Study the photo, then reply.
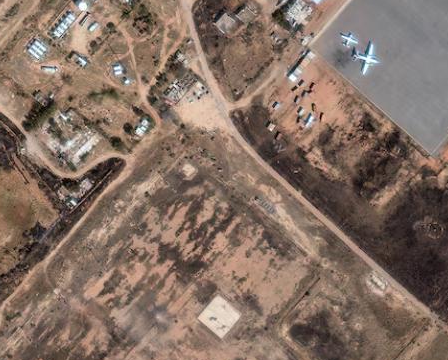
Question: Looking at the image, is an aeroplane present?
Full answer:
Yes, there is an aeroplane in the image.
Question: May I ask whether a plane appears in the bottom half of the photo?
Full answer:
No, no plane can be made out in the bottom half of the photo.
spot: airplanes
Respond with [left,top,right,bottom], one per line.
[342,35,358,47]
[353,45,379,73]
